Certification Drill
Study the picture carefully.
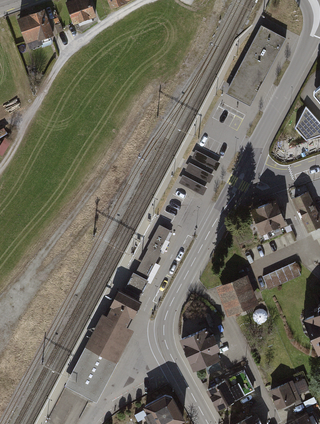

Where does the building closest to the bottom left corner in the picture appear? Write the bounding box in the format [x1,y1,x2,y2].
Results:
[66,348,117,402]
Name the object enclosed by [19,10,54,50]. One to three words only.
house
